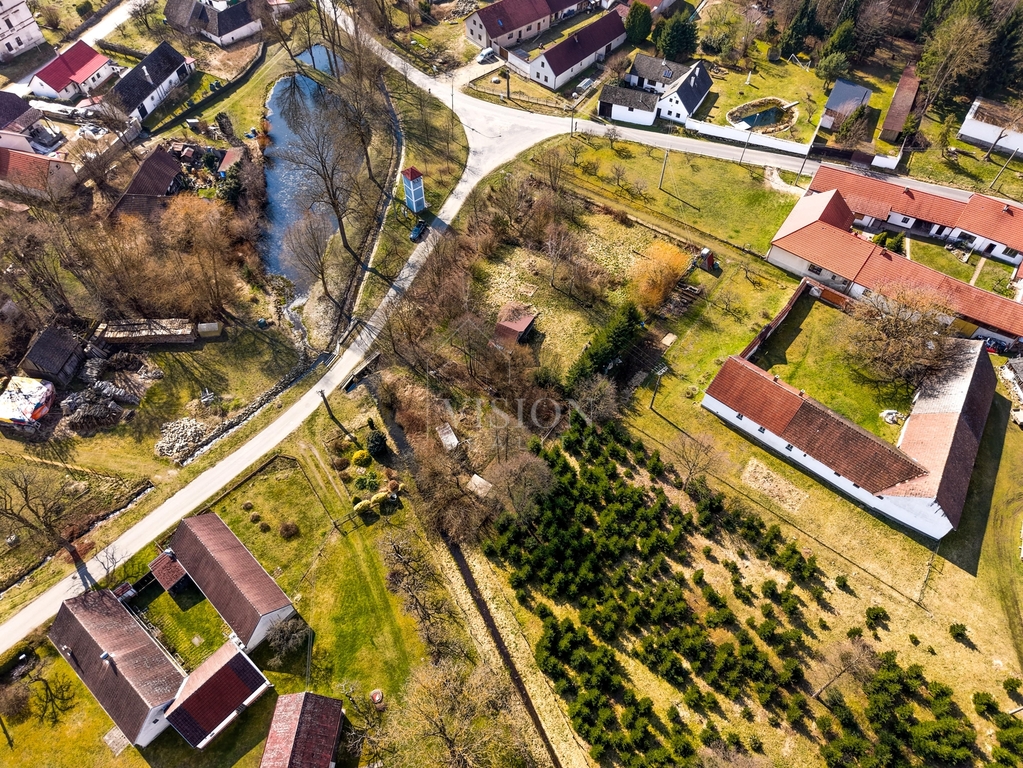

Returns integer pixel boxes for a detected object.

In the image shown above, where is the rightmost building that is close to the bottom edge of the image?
[263,692,345,768]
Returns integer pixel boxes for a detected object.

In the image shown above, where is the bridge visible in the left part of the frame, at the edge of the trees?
[324,317,379,387]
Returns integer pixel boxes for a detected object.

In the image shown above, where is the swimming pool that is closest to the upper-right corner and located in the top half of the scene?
[743,107,786,131]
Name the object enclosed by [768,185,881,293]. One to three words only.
house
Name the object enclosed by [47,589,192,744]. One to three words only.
house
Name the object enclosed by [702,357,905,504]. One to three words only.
barn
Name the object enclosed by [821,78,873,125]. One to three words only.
shed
